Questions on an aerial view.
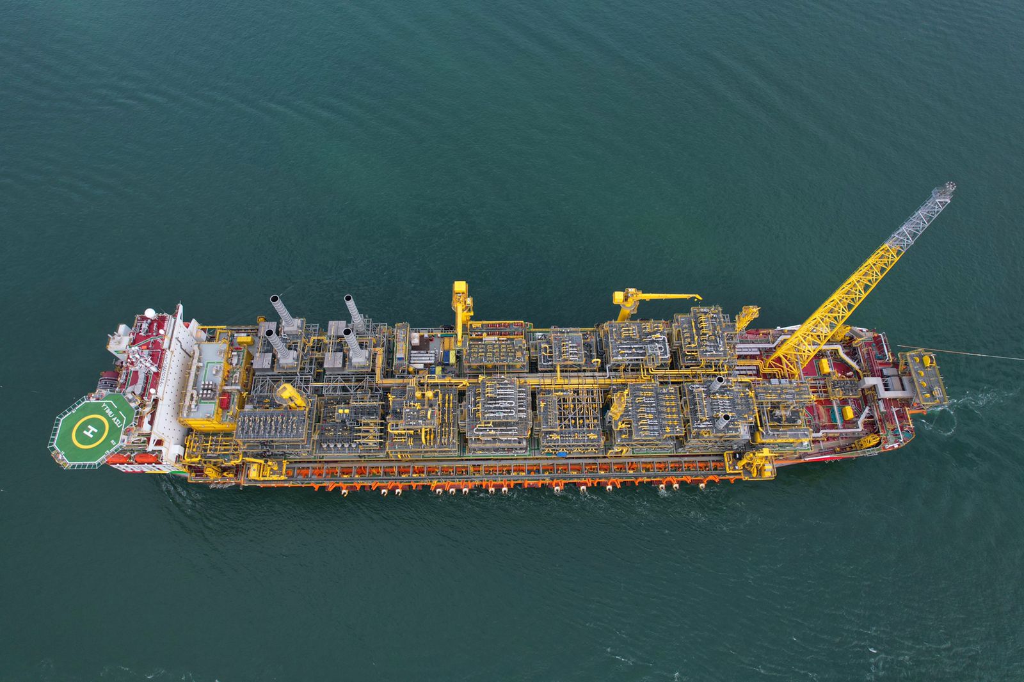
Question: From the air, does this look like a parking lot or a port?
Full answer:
What you see here is a port.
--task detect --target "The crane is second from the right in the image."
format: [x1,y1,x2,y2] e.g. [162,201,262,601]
[612,286,702,321]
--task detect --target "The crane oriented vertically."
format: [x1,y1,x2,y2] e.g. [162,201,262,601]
[453,281,474,354]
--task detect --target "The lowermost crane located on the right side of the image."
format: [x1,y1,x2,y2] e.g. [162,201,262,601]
[723,446,781,481]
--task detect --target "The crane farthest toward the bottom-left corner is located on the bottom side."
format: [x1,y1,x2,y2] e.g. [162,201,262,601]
[242,457,293,483]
